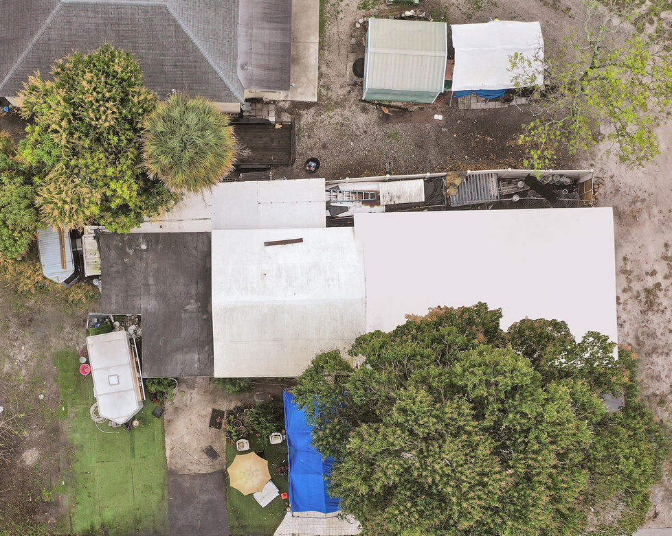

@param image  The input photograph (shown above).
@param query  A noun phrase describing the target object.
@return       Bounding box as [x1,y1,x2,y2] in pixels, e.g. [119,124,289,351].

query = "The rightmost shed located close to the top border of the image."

[362,17,449,104]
